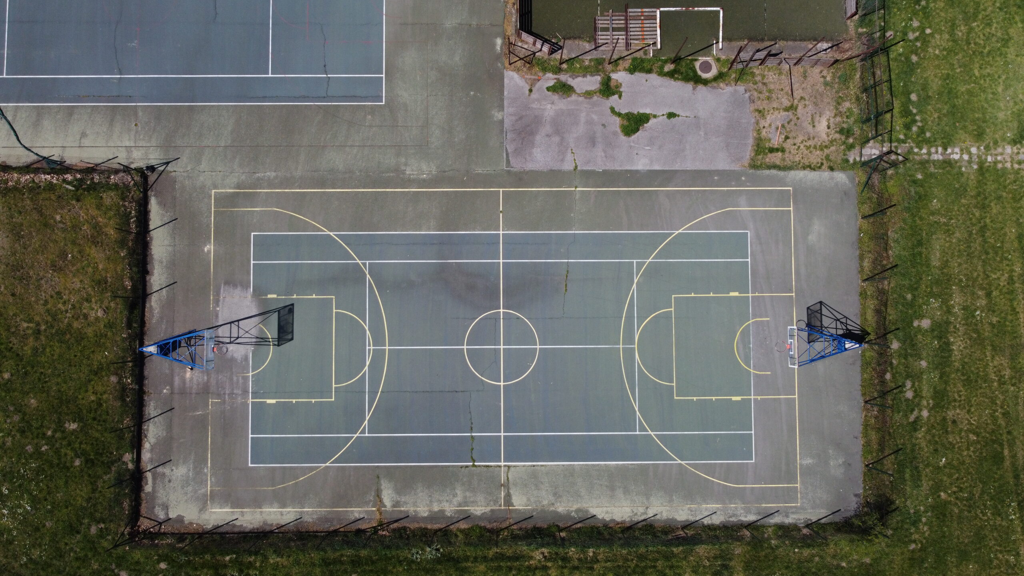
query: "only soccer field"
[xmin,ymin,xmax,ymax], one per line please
[519,0,850,59]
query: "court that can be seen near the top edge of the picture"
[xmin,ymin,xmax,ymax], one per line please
[0,0,504,179]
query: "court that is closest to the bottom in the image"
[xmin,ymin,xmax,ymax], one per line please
[141,164,863,533]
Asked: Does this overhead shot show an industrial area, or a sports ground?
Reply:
sports ground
